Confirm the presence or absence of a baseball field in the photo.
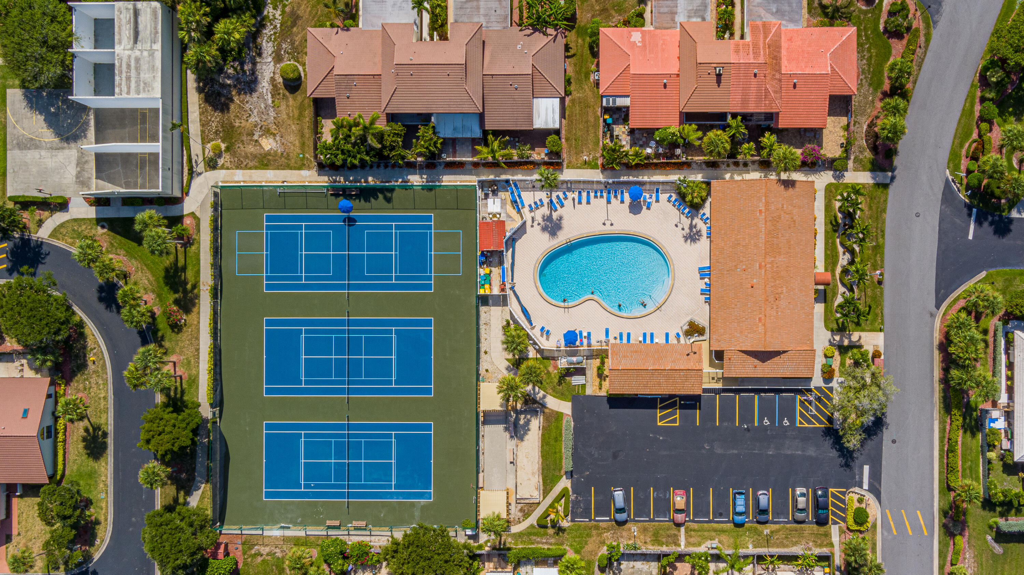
No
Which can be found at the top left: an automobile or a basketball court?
basketball court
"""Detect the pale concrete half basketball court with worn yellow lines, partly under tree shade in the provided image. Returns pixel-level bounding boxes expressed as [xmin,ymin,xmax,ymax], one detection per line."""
[6,89,94,196]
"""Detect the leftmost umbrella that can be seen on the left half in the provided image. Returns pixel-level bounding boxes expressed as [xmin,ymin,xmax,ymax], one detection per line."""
[338,199,353,214]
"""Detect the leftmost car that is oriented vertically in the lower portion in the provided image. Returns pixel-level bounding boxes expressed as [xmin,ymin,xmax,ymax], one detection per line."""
[612,488,629,524]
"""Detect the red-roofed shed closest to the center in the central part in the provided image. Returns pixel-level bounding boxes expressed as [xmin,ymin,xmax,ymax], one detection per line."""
[479,220,505,250]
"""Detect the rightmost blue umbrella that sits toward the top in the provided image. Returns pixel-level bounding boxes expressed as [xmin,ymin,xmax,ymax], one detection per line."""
[628,186,643,201]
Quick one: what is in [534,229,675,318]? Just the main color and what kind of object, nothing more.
blue swimming pool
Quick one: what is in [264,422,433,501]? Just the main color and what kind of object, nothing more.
blue tennis court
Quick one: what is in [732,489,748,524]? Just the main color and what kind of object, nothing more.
blue vehicle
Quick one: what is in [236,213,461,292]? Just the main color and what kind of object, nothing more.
blue tennis court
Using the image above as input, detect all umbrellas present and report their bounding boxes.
[563,330,578,345]
[338,199,353,214]
[628,186,643,201]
